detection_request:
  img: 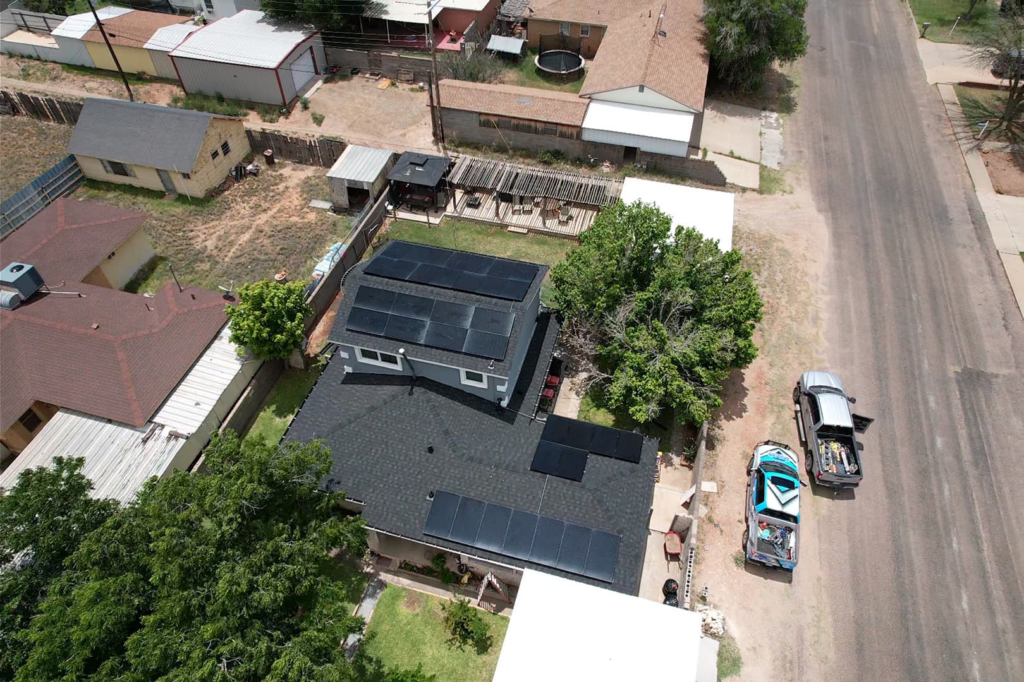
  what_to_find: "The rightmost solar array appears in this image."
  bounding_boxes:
[529,416,644,481]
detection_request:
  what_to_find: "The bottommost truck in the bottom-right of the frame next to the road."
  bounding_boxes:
[742,440,808,576]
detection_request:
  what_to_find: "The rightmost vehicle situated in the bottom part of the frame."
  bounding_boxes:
[795,373,881,495]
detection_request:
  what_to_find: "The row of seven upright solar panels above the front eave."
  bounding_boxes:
[424,491,621,583]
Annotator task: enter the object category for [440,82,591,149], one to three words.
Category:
building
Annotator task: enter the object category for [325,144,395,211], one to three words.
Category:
shed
